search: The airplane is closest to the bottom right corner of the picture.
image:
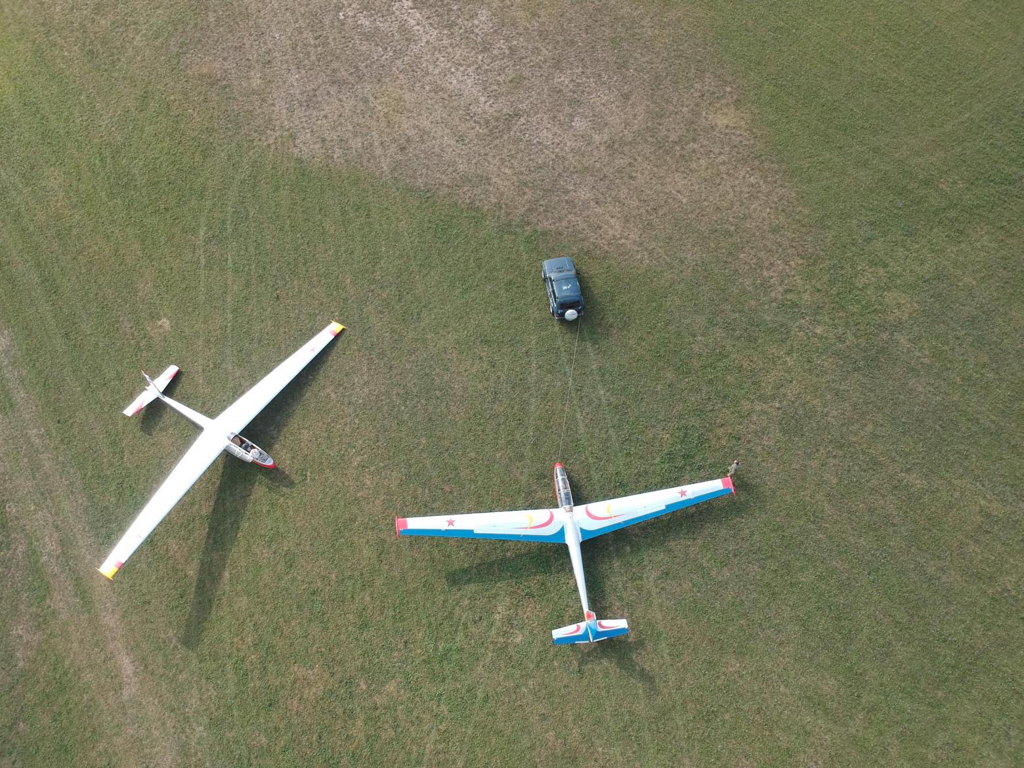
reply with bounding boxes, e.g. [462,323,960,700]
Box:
[396,462,734,644]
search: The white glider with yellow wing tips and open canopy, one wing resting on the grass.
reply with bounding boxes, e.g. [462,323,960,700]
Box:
[96,320,344,580]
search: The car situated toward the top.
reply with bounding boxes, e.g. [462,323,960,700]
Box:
[542,258,584,321]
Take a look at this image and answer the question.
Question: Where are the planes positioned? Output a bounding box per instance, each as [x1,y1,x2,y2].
[396,462,734,644]
[96,320,344,580]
